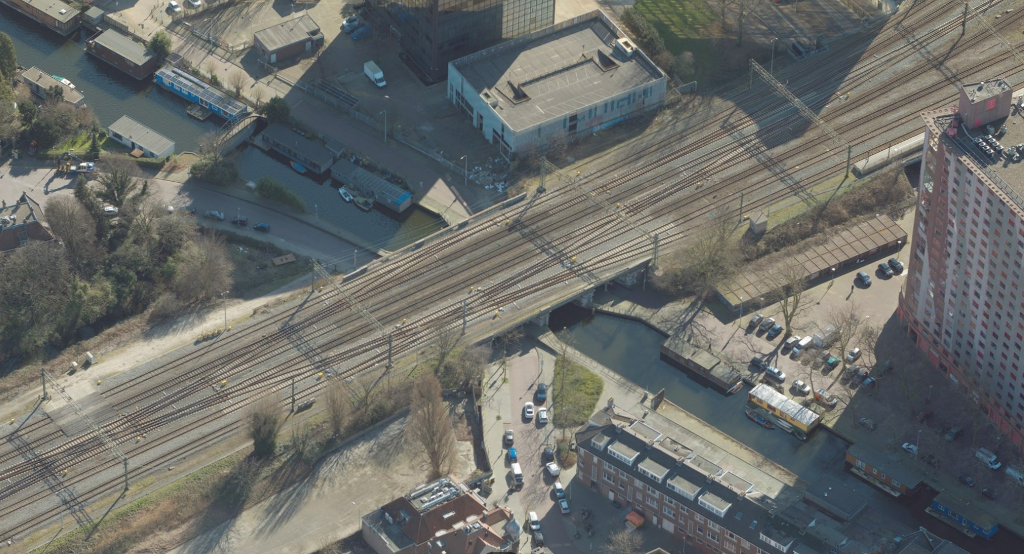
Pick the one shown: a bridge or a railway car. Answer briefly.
bridge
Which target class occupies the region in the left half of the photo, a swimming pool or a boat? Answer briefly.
boat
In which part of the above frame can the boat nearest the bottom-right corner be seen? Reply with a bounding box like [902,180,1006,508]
[926,493,995,541]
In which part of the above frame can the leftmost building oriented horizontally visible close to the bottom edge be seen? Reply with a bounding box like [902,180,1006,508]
[363,475,529,554]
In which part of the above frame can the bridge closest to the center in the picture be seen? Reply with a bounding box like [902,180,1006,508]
[343,188,654,343]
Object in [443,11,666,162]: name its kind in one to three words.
building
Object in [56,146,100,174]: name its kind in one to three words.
vehicle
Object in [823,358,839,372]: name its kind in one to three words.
car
